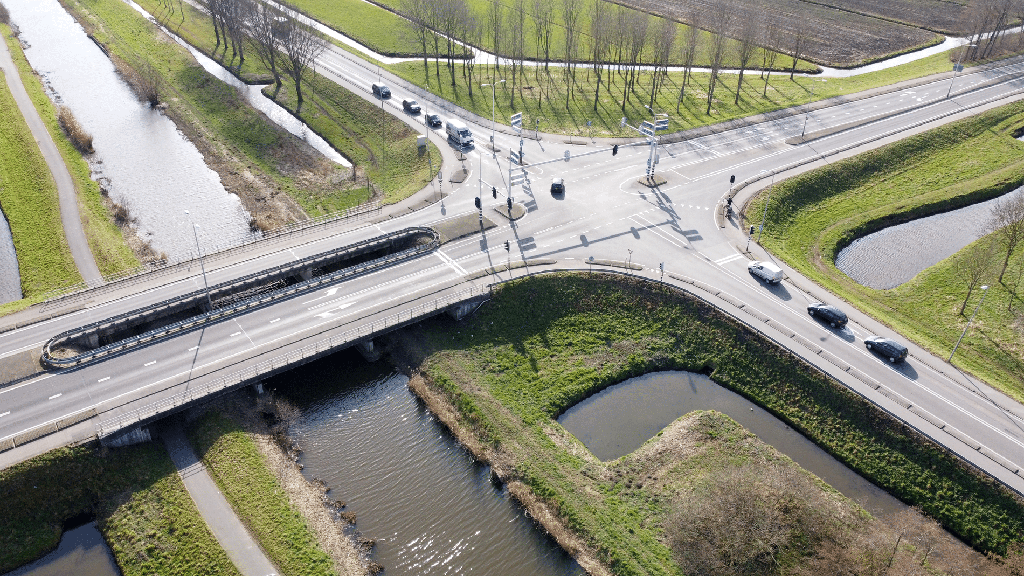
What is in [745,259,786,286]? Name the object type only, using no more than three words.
vehicle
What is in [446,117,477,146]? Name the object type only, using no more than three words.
van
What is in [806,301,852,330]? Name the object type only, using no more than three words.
car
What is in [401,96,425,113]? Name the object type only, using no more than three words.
car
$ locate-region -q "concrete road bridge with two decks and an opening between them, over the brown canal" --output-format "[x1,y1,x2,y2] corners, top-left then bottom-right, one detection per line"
[59,206,490,442]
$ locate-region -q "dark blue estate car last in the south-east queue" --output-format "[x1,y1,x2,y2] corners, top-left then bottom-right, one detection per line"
[863,334,912,364]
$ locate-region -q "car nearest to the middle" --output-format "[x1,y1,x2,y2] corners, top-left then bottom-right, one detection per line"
[550,174,565,190]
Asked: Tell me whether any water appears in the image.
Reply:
Yes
